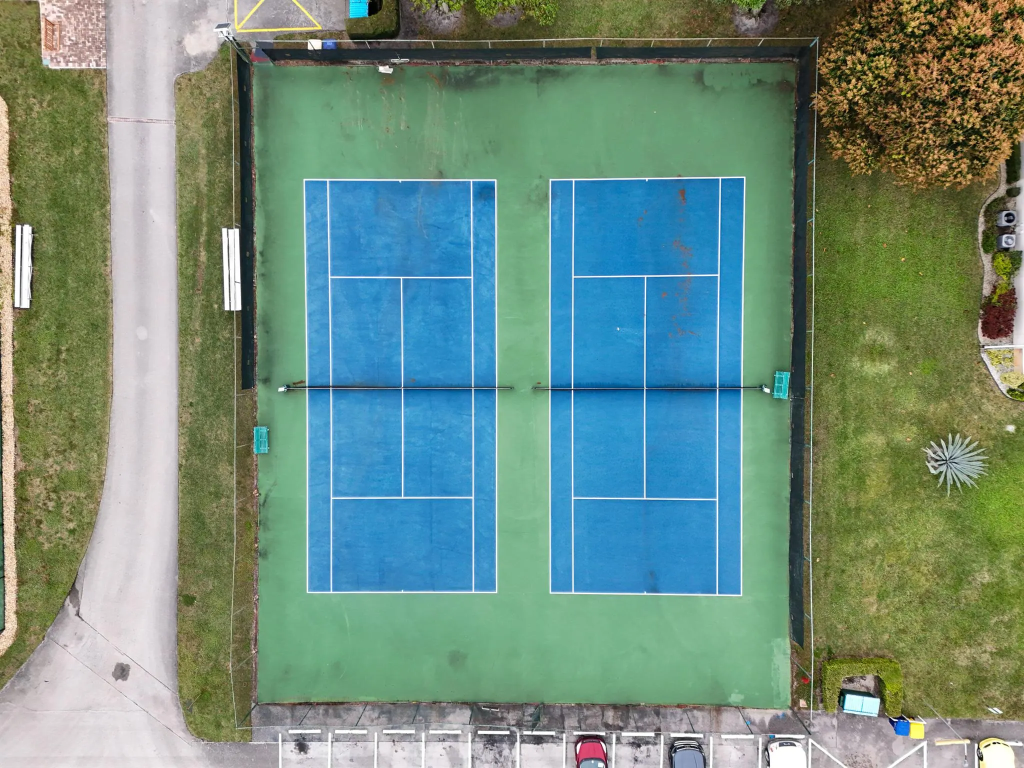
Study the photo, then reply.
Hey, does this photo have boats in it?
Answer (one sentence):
No, there is no boat in the image.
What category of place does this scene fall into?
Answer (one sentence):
This looks like a sports ground.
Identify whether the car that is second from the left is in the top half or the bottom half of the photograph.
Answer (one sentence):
The bottom half of the photo is where the car that is second from the left is.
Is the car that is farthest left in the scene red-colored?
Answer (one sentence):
Yes, the car that is farthest left appears red.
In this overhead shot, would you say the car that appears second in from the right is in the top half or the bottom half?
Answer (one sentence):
The car that appears second in from the right sits in the bottom half of the picture.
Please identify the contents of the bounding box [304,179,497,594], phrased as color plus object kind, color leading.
blue tennis court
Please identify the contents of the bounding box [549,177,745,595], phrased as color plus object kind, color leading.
blue tennis court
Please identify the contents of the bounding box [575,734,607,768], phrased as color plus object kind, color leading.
red car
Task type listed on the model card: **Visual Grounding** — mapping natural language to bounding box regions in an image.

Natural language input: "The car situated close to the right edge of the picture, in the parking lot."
[975,736,1017,768]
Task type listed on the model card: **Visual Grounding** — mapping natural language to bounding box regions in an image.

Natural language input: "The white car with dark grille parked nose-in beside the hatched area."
[767,738,805,768]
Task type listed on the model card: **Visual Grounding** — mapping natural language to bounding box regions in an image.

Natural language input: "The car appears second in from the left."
[669,739,705,768]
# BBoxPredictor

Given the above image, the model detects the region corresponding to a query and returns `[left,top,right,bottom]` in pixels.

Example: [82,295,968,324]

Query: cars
[669,739,705,768]
[767,738,805,768]
[975,736,1017,768]
[575,734,607,768]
